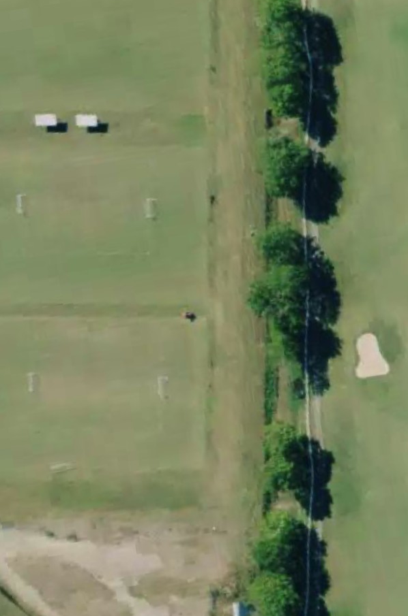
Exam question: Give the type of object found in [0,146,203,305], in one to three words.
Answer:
sports field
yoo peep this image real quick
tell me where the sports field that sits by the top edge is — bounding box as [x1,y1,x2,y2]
[0,0,206,116]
